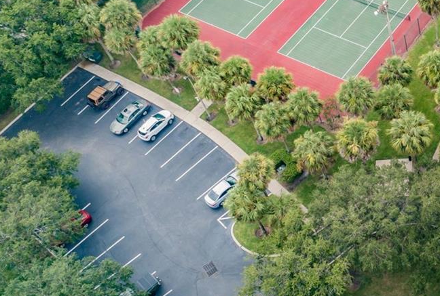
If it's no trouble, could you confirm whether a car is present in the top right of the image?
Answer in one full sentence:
No, the scene shows no car in the top right of the image.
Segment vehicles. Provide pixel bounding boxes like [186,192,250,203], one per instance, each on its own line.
[130,262,165,296]
[82,77,122,106]
[65,204,96,239]
[200,167,241,205]
[106,98,148,132]
[133,108,173,140]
